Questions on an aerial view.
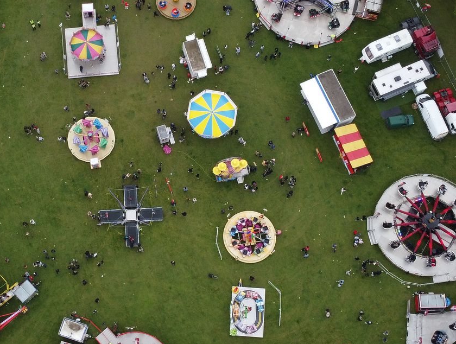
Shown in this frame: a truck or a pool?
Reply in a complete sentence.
I can see a truck in this picture.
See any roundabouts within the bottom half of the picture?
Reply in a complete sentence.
No, the scene shows no roundabout within the bottom half of the picture.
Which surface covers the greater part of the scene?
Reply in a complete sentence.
The bulk of the photo consists of grass.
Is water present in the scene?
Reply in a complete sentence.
No, water can't be seen anywhere here.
